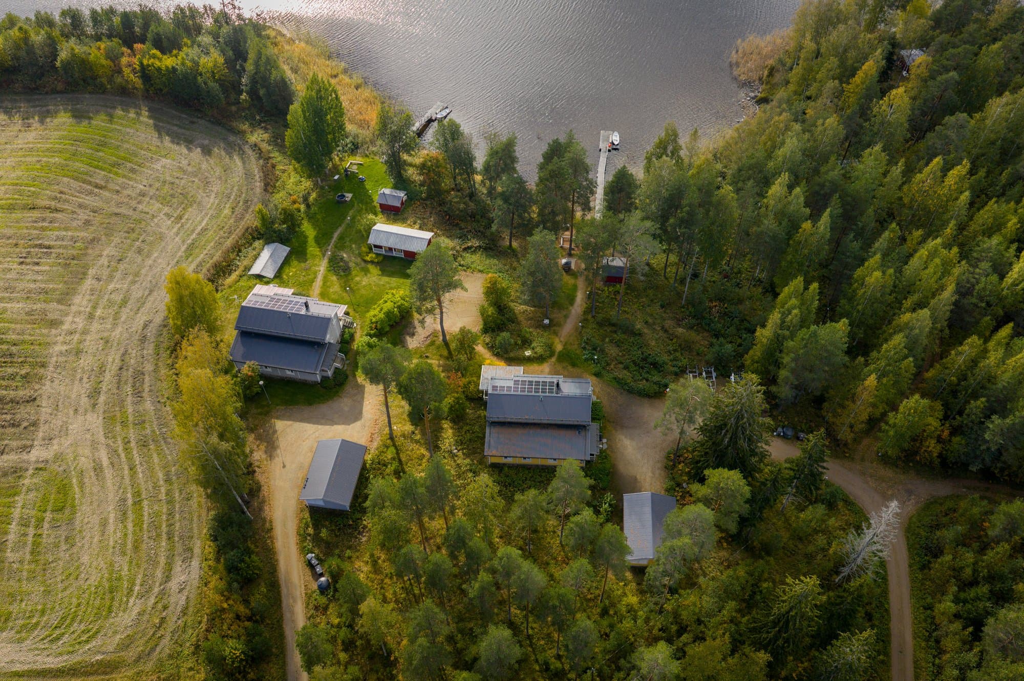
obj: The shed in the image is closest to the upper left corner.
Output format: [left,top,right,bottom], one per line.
[248,243,291,281]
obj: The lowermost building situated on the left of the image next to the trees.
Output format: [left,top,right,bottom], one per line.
[297,439,366,515]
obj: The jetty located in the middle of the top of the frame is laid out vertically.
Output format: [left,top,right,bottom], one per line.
[595,131,613,216]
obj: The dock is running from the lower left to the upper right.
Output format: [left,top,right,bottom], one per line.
[411,103,447,136]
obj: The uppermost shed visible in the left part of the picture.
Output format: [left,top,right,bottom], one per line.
[377,192,409,218]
